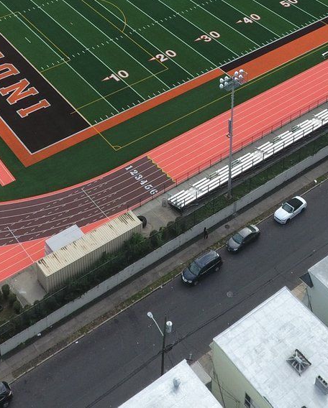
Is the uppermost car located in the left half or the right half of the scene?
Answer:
right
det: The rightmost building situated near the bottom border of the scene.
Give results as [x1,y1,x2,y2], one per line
[202,283,328,408]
